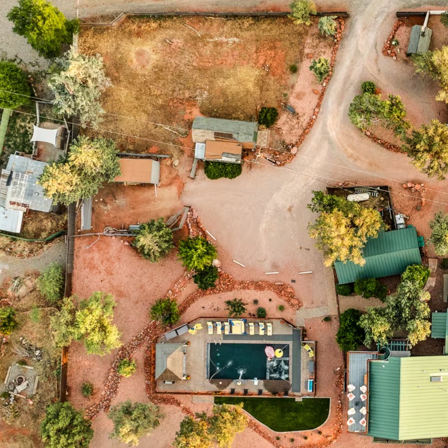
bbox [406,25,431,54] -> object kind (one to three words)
shed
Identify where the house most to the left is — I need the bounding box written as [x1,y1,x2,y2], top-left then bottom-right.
[0,154,56,232]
